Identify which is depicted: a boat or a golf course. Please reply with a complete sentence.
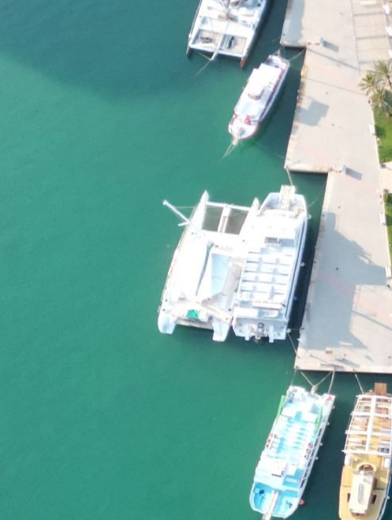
The one in the frame is a boat.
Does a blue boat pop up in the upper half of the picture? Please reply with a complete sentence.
No, there's no blue boat to be seen in the upper half of the picture.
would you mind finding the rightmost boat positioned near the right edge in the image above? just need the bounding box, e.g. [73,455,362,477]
[337,375,392,520]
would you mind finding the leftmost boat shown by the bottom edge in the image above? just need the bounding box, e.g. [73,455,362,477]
[256,371,334,520]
